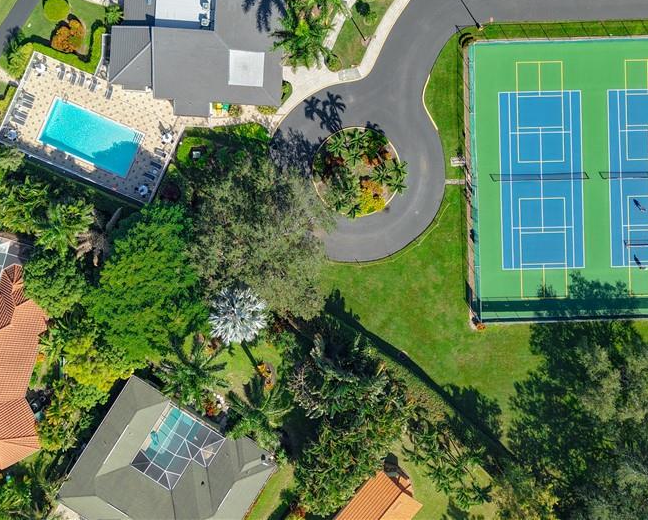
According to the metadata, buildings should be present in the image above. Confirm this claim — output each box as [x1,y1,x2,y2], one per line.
[58,372,276,520]
[0,264,49,470]
[109,0,284,118]
[330,461,422,520]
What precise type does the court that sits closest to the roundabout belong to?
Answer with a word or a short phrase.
tennis court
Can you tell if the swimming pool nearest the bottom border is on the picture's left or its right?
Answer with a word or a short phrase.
left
